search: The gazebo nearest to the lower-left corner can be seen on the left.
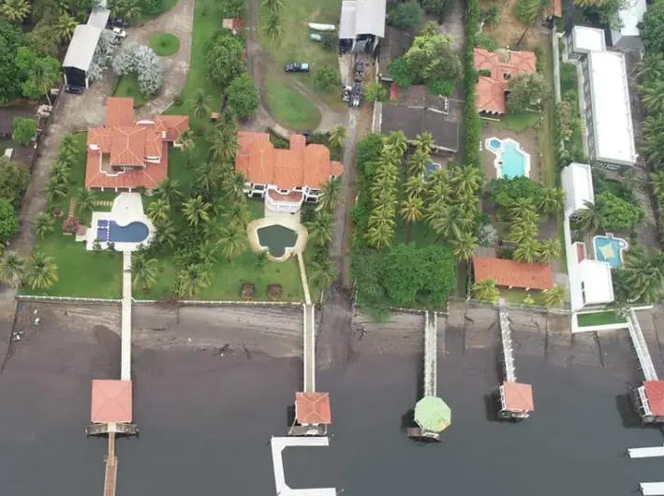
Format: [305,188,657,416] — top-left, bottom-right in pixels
[91,379,133,425]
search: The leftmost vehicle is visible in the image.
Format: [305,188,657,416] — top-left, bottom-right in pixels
[67,73,81,91]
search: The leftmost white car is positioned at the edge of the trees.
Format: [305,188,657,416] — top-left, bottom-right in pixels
[110,24,130,38]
